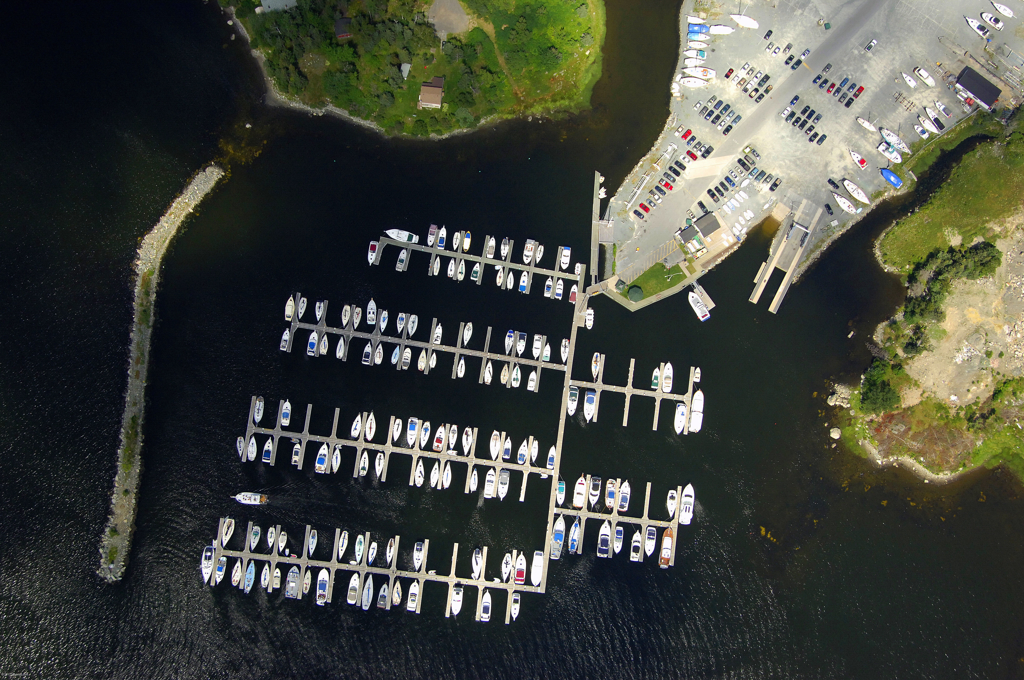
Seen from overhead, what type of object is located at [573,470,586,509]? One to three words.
boat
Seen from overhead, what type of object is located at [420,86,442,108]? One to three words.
house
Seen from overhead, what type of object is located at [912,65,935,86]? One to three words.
boat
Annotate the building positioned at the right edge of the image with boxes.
[952,66,1002,112]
